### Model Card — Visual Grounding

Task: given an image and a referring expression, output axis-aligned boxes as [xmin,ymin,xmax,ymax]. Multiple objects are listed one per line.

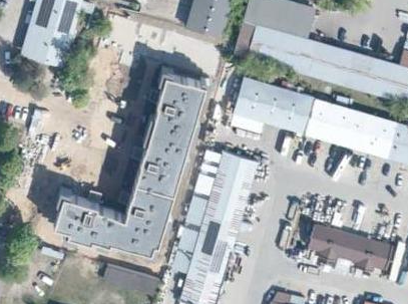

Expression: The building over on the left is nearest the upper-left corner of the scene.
[28,106,45,137]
